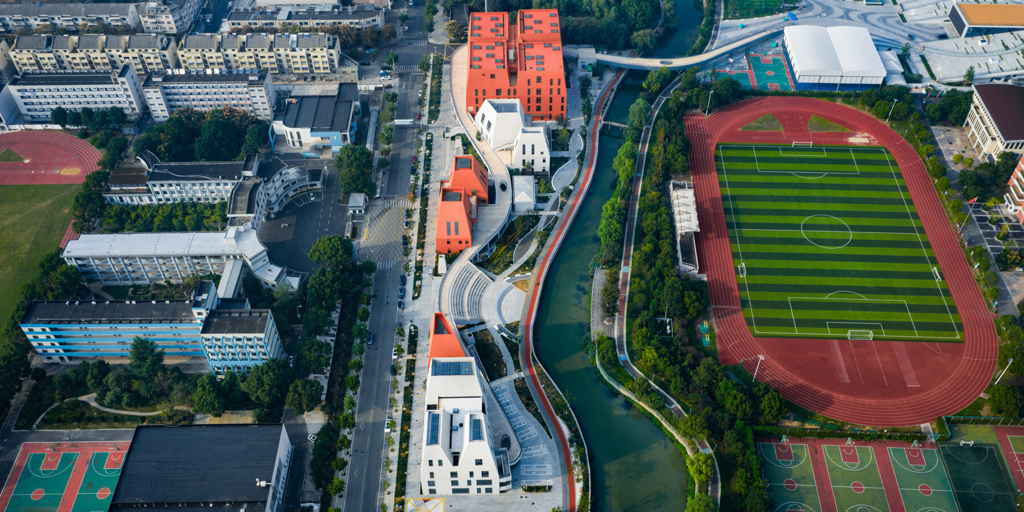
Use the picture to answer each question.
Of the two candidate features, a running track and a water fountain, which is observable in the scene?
running track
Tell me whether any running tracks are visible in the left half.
Yes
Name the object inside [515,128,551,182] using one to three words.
building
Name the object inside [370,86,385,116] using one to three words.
shed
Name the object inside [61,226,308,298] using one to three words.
building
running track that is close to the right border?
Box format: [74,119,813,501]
[682,97,1000,428]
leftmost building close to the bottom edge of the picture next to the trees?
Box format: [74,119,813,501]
[106,424,291,512]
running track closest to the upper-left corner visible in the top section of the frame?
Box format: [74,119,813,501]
[0,131,99,184]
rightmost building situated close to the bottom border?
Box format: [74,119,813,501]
[420,357,511,494]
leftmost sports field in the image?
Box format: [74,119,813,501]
[0,184,85,320]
